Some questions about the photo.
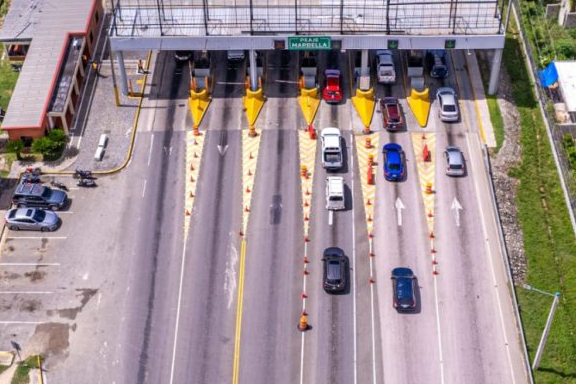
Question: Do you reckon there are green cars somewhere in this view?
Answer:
No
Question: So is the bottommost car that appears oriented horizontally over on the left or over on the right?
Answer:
left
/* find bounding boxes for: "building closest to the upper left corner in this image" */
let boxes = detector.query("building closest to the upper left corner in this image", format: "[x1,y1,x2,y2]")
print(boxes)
[0,0,101,155]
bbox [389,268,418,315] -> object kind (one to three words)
car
